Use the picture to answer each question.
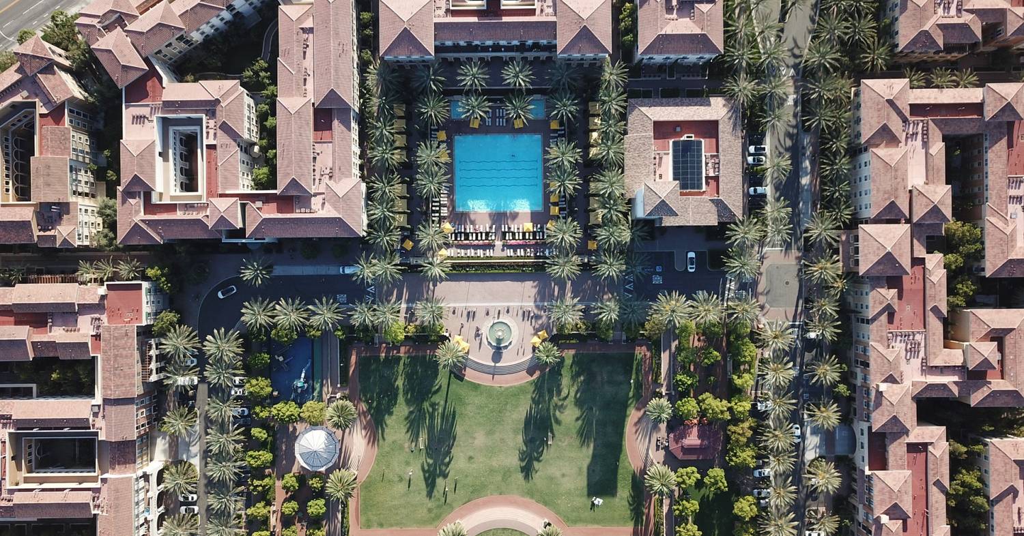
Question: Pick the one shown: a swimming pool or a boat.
swimming pool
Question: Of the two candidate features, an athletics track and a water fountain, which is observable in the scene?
water fountain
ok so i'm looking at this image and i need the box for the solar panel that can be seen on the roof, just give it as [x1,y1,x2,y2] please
[673,140,703,190]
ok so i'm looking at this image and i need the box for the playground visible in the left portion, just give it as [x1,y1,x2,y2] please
[270,331,313,401]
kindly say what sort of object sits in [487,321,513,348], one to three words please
fountain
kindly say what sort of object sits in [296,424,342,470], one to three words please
gazebo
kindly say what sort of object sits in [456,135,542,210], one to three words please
swimming pool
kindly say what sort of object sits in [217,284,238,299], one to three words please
car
